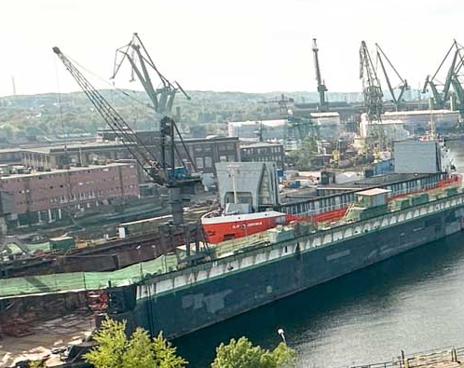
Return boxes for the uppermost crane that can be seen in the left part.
[112,31,193,126]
